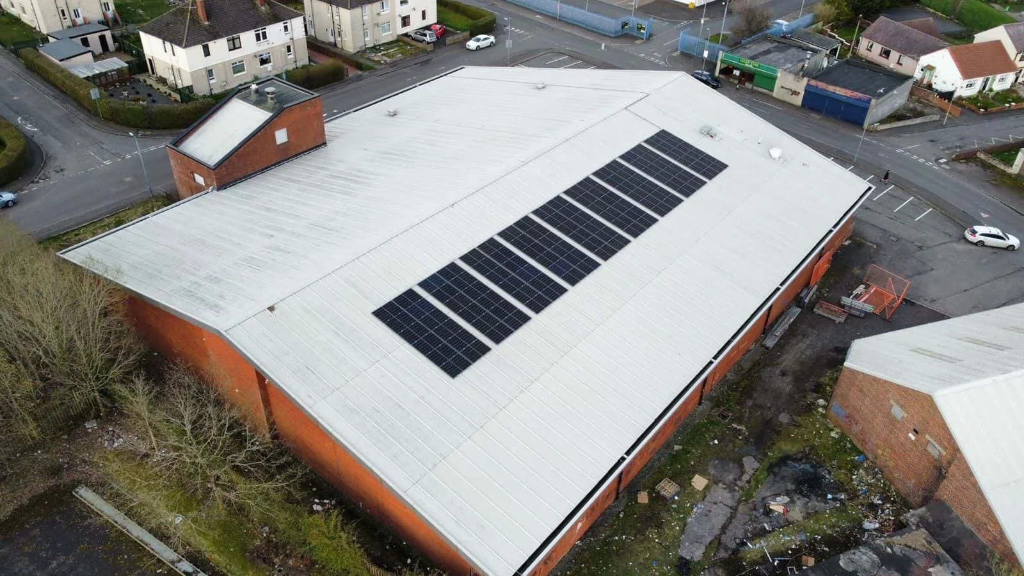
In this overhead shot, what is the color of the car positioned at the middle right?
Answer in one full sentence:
The car positioned at the middle right looks white in the image.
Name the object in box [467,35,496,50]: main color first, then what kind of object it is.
white car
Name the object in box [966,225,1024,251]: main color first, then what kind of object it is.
white car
